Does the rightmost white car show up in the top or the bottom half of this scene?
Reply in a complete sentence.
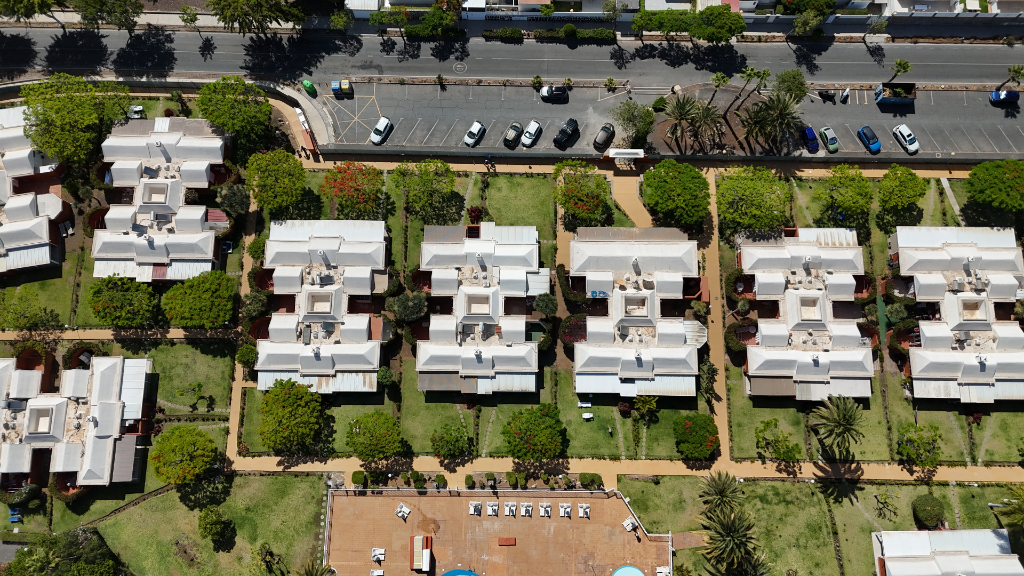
Seen from above, the rightmost white car lies in the top half of the view.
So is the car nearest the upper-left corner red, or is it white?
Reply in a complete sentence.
The color of the car nearest the upper-left corner is white.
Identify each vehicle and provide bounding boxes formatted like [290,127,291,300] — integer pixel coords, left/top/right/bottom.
[466,121,484,146]
[540,85,568,100]
[554,115,578,148]
[594,124,612,149]
[988,88,1021,104]
[522,120,540,146]
[894,125,918,153]
[819,91,834,98]
[858,127,879,153]
[505,124,522,147]
[371,116,392,145]
[842,88,849,102]
[818,128,837,152]
[802,128,819,151]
